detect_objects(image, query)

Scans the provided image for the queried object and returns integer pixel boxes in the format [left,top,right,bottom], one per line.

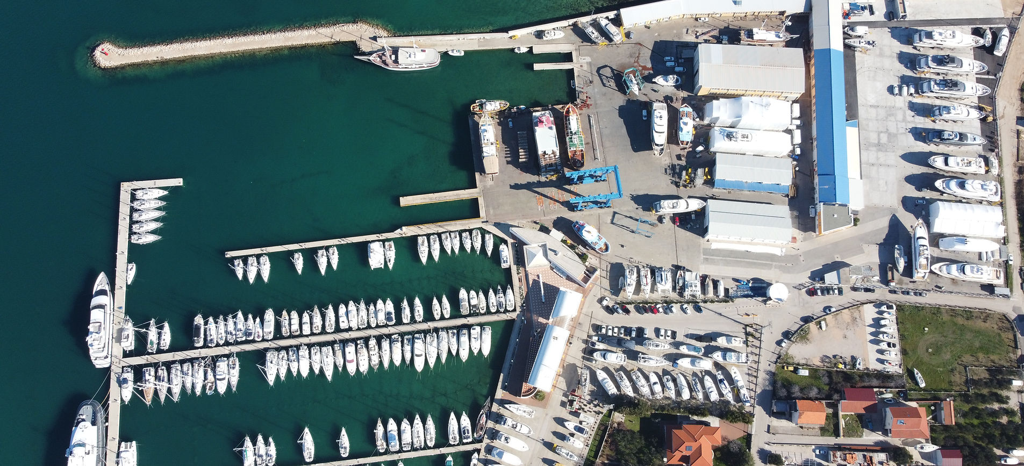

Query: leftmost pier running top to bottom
[106,178,184,466]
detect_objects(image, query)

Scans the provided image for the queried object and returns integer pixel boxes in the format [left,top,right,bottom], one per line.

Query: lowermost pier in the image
[300,443,482,466]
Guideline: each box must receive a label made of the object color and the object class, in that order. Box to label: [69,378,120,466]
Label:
white vessel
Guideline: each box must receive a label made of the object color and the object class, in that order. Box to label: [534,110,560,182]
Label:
white ship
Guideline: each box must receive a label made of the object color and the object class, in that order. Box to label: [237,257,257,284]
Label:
white boat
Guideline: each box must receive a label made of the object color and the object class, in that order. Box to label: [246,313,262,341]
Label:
white boat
